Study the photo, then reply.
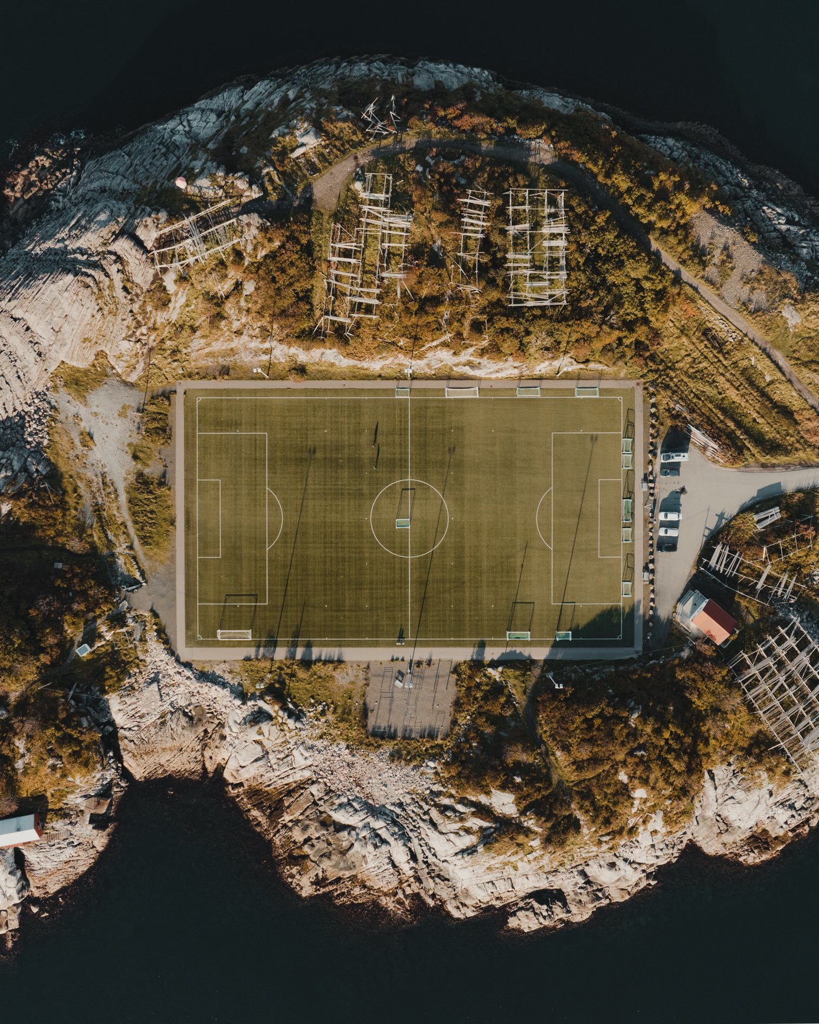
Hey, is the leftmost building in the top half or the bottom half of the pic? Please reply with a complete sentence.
The leftmost building sits in the bottom half of the picture.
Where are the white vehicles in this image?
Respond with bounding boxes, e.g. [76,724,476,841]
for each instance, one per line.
[660,528,679,536]
[662,451,690,462]
[660,512,682,521]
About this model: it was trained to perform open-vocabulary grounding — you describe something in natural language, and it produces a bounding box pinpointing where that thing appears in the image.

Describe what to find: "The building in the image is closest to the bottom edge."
[0,813,44,850]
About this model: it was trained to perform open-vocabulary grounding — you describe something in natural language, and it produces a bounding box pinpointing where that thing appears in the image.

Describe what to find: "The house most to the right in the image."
[690,598,737,646]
